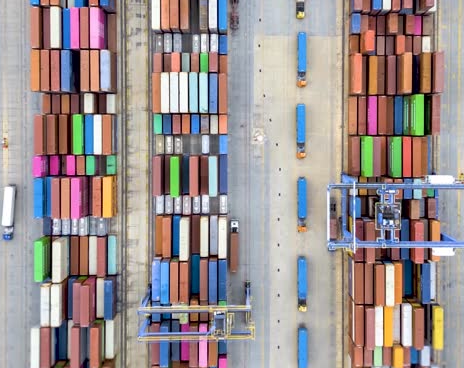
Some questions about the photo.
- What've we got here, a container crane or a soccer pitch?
container crane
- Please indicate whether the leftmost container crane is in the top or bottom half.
bottom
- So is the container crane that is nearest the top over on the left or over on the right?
right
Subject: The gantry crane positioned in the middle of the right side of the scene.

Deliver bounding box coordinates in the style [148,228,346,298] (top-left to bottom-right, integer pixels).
[325,164,464,262]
